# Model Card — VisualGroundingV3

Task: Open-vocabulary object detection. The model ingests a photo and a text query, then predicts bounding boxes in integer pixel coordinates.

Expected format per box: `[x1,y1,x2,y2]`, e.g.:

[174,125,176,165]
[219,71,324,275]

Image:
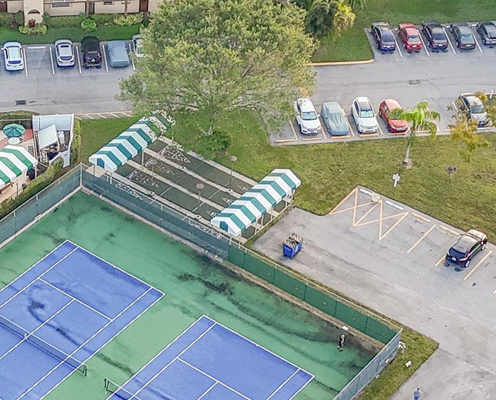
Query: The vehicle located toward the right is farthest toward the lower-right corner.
[445,232,487,269]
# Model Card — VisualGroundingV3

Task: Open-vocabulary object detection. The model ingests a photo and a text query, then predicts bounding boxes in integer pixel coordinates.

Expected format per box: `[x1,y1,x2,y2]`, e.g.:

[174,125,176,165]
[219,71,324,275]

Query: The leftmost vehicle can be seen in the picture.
[1,44,23,73]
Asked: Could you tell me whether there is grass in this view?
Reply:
Yes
